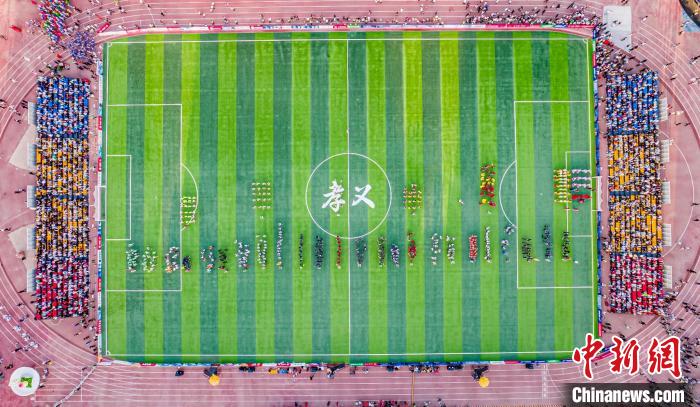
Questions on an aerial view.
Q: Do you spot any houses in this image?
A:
No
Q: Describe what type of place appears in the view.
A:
sports ground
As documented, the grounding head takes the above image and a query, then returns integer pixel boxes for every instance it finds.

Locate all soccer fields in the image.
[100,32,602,361]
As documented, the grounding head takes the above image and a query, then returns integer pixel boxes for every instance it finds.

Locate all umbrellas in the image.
[208,375,219,385]
[479,376,489,386]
